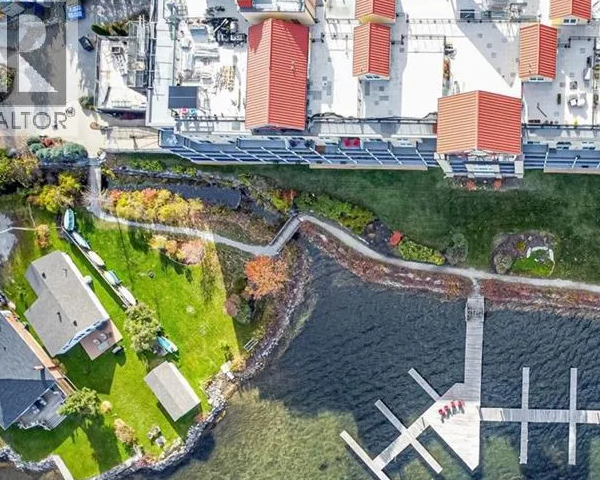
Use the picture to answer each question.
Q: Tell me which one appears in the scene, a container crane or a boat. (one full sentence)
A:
Visible in the photo is a boat.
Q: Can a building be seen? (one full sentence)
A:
Yes, the picture does show a building.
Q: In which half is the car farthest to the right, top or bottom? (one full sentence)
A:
The car farthest to the right is in the top half of the image.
